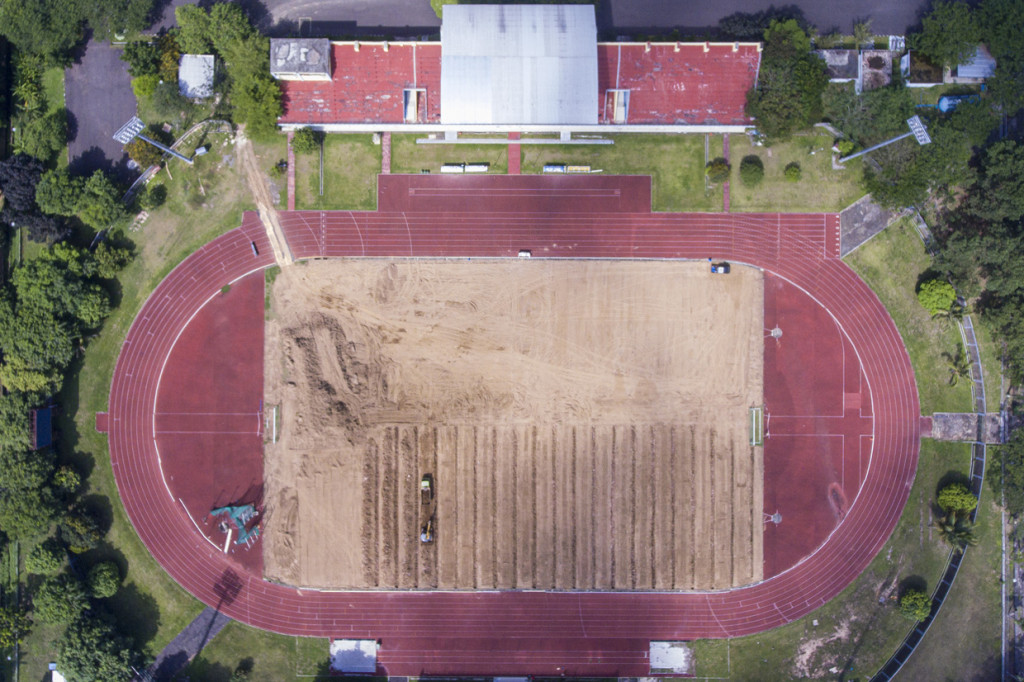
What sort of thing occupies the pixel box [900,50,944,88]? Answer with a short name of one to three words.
house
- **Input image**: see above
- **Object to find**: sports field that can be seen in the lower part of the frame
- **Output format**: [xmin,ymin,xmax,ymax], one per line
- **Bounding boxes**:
[264,260,765,590]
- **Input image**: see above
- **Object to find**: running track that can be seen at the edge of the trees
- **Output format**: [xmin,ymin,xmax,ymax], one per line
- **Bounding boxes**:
[96,174,932,639]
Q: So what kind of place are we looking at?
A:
sports ground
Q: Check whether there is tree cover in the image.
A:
Yes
